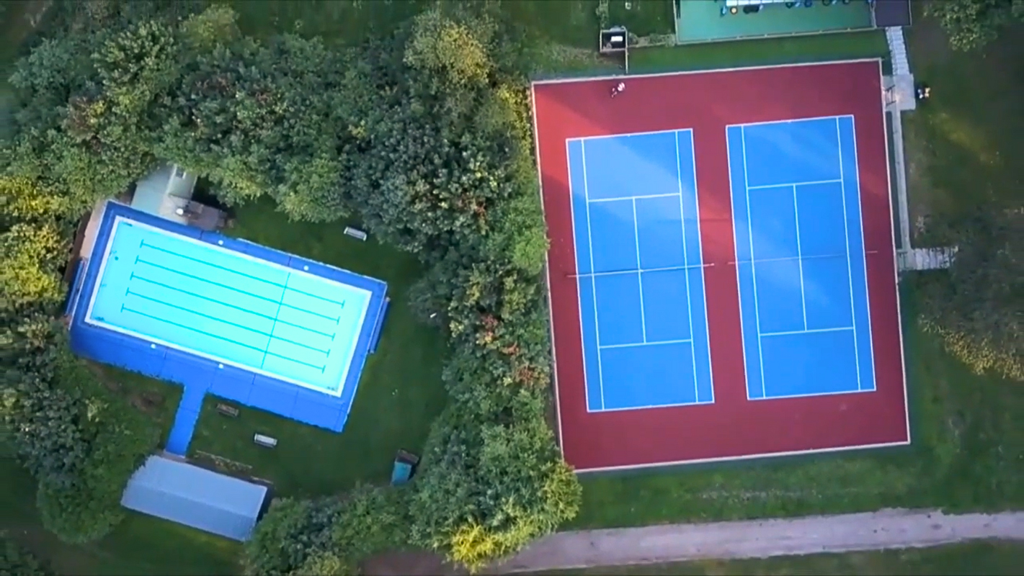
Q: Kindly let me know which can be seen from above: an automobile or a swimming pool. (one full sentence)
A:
Visible in the photo is a swimming pool.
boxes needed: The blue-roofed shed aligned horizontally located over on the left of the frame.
[121,454,269,542]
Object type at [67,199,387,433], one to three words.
swimming pool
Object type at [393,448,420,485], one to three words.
shed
